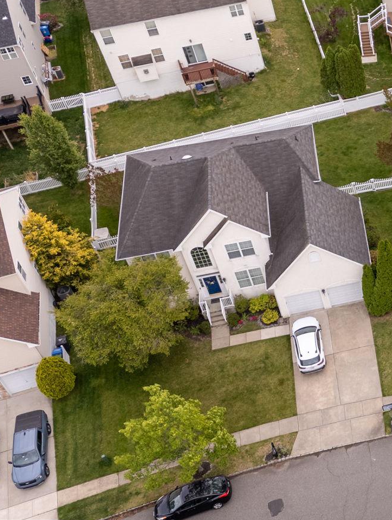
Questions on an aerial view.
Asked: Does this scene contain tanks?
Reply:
No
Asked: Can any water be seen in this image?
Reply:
No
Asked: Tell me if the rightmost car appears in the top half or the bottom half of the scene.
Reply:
bottom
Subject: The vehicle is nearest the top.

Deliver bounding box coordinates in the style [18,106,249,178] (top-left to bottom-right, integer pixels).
[289,319,326,374]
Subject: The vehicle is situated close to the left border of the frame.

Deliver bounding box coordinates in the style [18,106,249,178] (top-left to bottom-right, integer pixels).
[6,405,51,487]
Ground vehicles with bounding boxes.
[6,405,51,487]
[151,476,233,520]
[289,319,326,374]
